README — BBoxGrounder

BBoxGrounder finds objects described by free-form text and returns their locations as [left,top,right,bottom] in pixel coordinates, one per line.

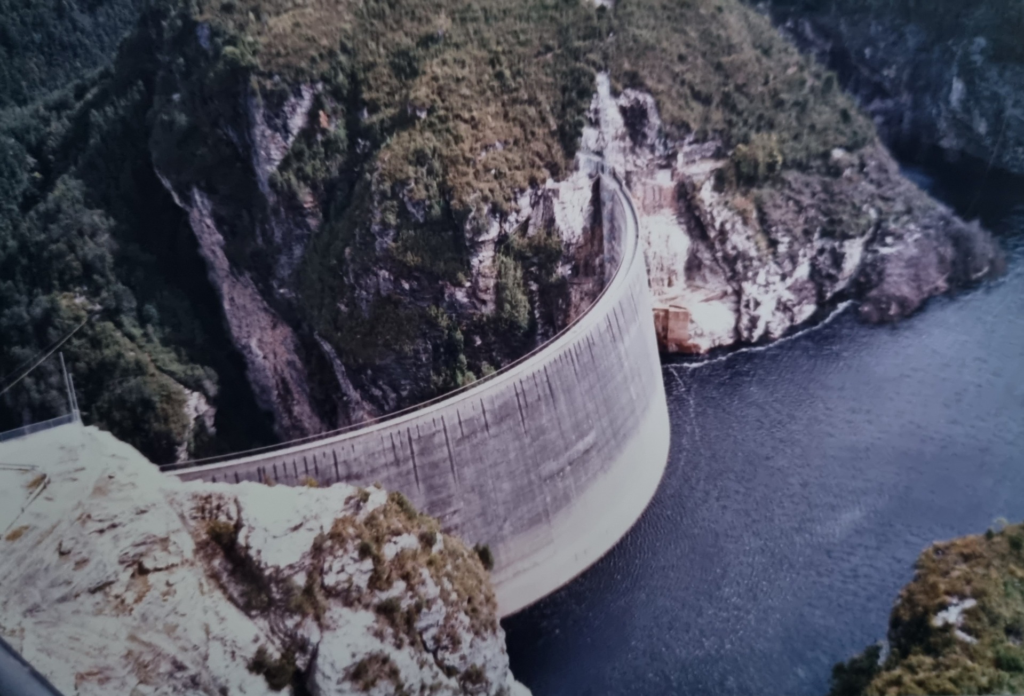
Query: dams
[152,165,672,627]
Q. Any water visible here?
Yes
